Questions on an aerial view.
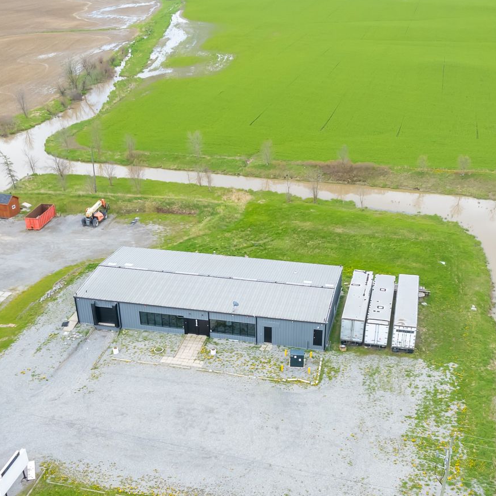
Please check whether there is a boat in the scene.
No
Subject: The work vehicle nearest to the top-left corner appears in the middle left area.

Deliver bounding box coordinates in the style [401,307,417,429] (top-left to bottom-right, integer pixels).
[84,195,109,225]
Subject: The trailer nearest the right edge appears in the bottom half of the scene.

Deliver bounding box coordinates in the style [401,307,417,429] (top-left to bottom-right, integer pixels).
[391,274,420,354]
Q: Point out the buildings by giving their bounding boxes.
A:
[71,246,344,352]
[0,194,21,218]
